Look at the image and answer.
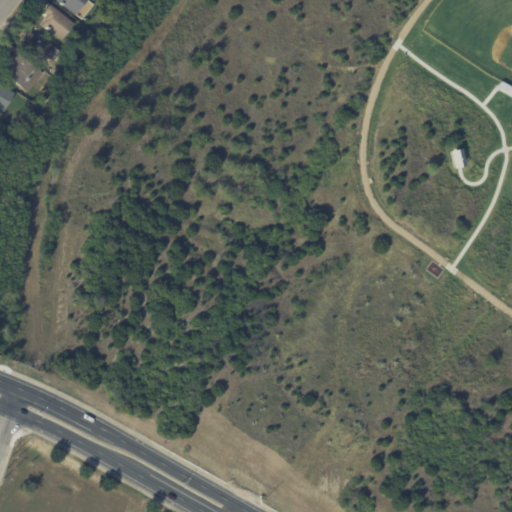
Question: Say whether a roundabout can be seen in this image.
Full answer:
No, no roundabout is visible in the scene.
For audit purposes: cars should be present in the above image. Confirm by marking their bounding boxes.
[20,408,29,414]
[84,414,94,422]
[168,492,178,499]
[10,424,20,433]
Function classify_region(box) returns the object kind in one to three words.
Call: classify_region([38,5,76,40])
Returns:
house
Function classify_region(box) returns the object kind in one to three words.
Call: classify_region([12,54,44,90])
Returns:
house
